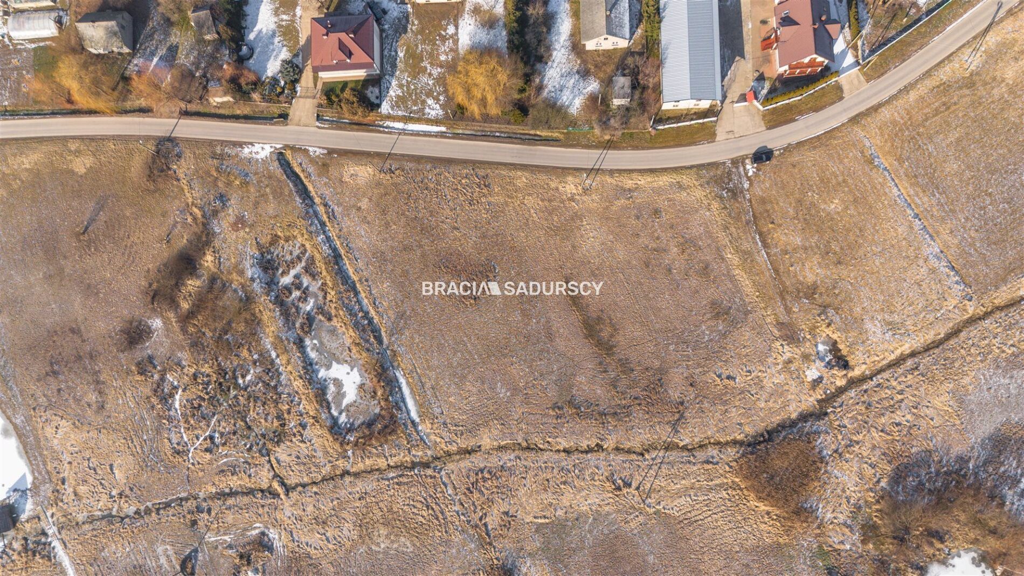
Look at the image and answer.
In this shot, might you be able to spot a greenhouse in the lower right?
No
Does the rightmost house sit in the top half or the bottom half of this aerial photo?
top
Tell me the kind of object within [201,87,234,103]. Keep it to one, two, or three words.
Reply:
shed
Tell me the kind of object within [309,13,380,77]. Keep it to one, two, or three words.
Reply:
house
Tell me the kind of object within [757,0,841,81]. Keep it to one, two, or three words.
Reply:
house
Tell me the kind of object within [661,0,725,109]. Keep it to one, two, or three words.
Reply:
barn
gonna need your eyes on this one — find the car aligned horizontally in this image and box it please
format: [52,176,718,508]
[752,150,775,163]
